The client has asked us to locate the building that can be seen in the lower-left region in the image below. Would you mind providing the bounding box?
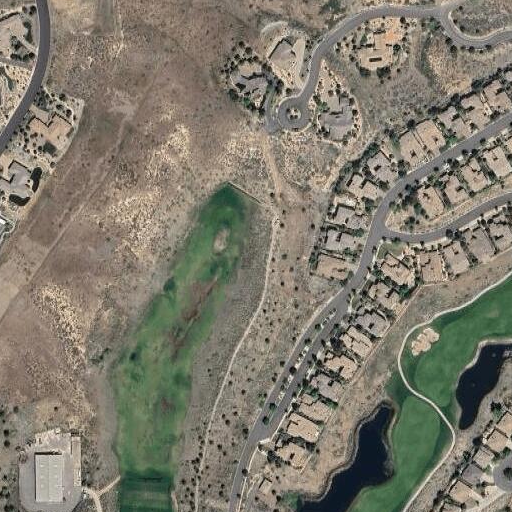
[36,455,63,502]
